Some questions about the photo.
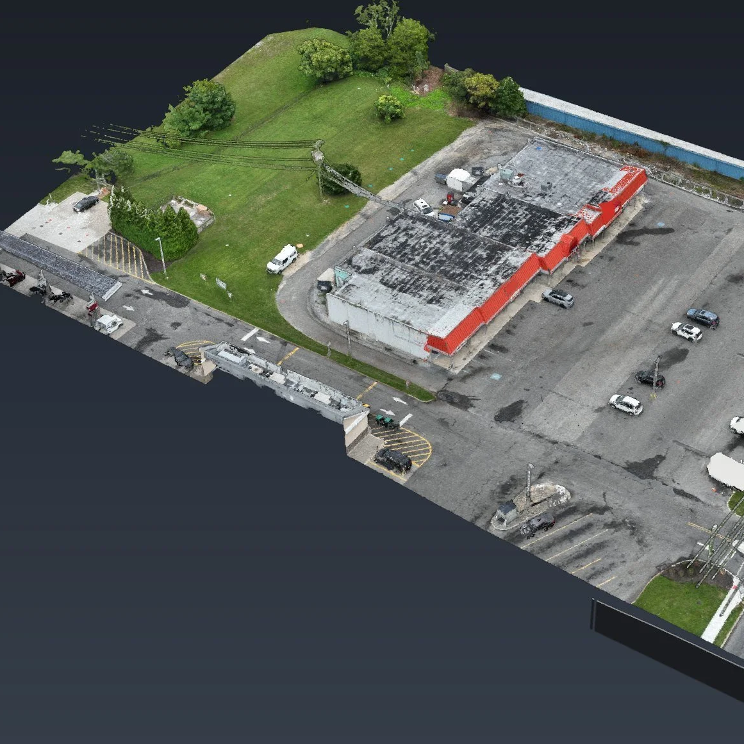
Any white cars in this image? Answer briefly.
Yes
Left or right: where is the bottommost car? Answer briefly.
right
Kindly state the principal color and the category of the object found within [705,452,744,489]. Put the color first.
white vehicle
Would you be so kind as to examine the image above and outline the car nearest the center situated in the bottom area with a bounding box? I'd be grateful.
[374,449,413,471]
